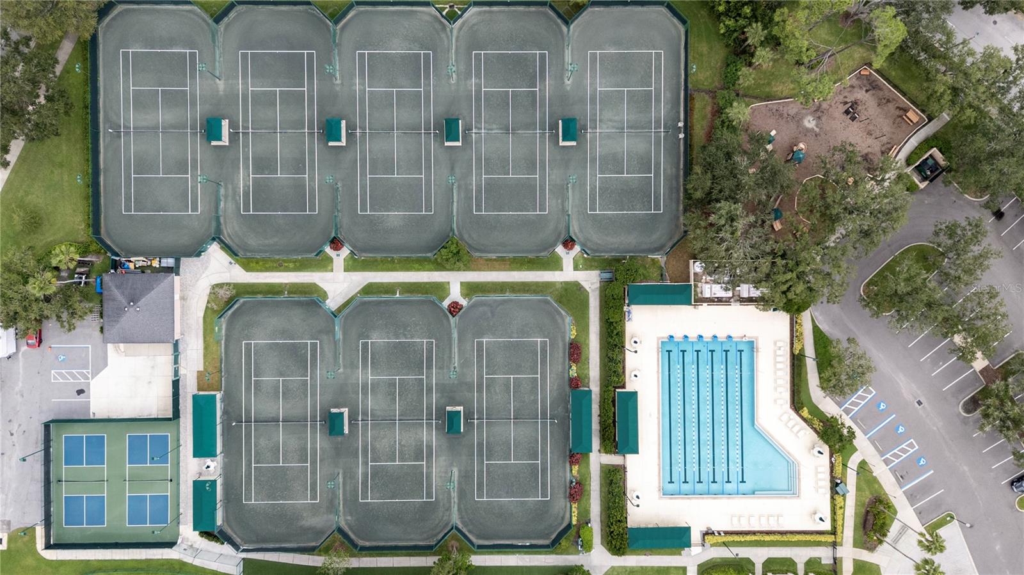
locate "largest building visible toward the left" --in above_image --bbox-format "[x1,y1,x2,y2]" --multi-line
[102,273,180,343]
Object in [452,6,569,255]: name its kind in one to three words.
tennis court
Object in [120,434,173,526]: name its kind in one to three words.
sports court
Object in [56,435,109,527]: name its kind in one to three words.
sports court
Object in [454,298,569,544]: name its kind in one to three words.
tennis court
